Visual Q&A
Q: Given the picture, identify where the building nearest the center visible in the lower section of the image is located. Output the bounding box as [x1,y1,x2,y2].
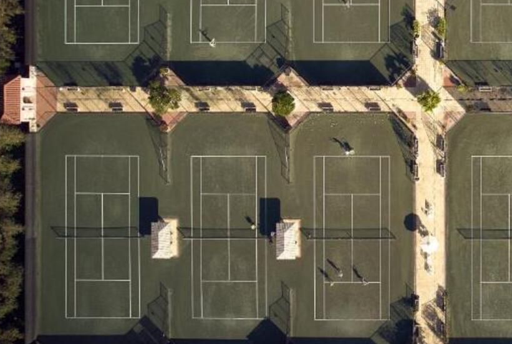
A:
[276,220,300,260]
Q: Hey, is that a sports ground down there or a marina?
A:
sports ground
